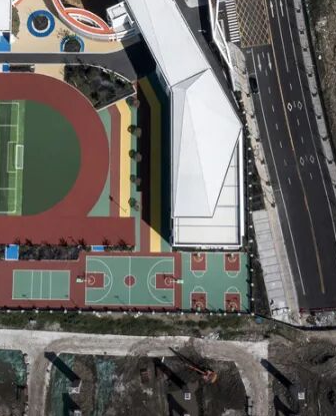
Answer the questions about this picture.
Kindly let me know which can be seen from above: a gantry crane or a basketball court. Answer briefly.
basketball court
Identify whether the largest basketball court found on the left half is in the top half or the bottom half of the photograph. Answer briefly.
bottom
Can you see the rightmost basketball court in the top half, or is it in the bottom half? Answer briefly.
bottom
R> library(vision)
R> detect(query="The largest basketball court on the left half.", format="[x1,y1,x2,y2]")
[85,257,174,306]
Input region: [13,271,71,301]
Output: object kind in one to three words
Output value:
sports court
